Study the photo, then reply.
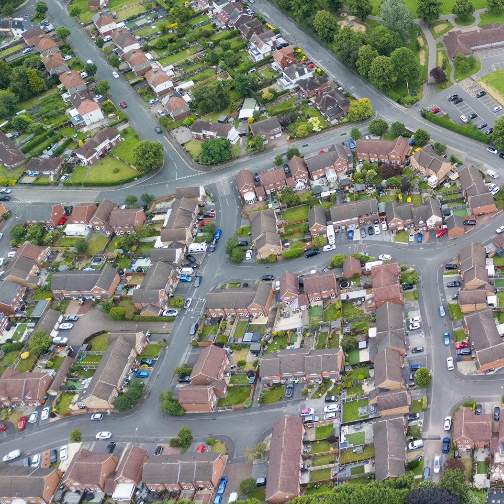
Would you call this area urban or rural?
urban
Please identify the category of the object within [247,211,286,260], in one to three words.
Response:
house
